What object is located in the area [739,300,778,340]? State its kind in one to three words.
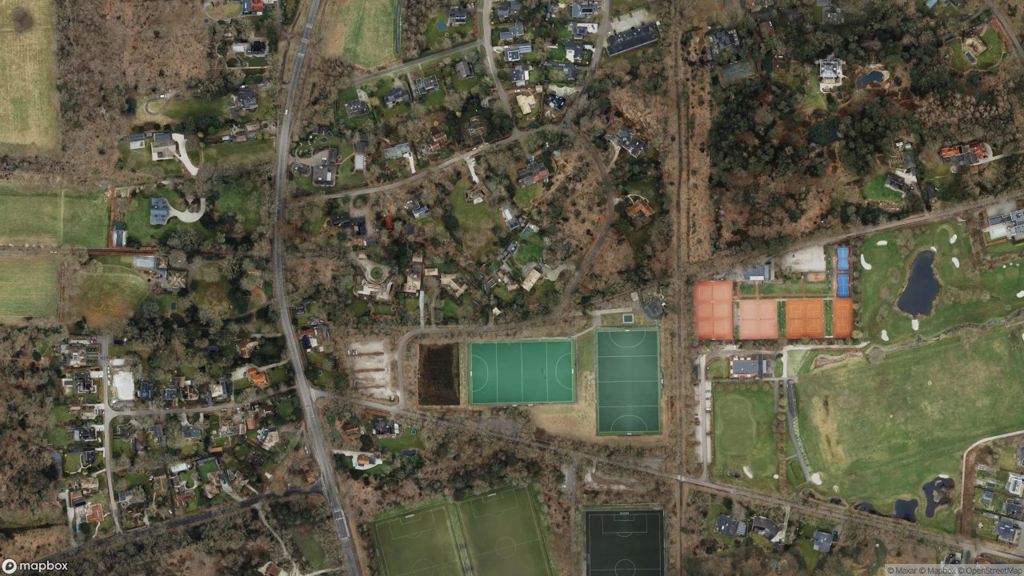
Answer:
tennis court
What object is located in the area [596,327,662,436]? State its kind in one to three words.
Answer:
sports field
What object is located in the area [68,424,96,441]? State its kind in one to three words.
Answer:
house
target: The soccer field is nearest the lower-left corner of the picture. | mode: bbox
[370,498,467,576]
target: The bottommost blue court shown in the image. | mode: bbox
[834,273,853,298]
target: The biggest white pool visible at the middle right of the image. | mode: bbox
[991,225,1007,238]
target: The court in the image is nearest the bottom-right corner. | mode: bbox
[833,299,853,338]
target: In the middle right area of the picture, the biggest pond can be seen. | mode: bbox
[898,250,942,315]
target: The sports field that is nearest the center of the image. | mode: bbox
[468,339,576,406]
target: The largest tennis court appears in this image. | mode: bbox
[694,281,733,340]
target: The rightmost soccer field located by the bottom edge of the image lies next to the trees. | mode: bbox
[586,509,664,576]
